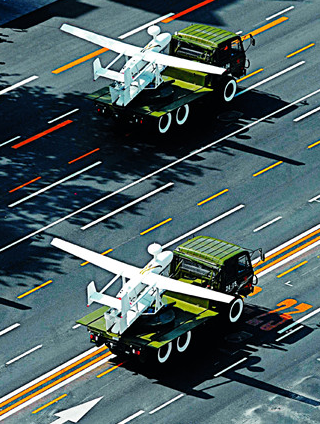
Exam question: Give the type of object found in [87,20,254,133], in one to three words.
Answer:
truck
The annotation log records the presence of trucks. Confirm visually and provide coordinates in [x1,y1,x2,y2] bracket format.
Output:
[77,231,264,363]
[87,20,254,133]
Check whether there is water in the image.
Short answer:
No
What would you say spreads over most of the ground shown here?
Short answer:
paved ground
